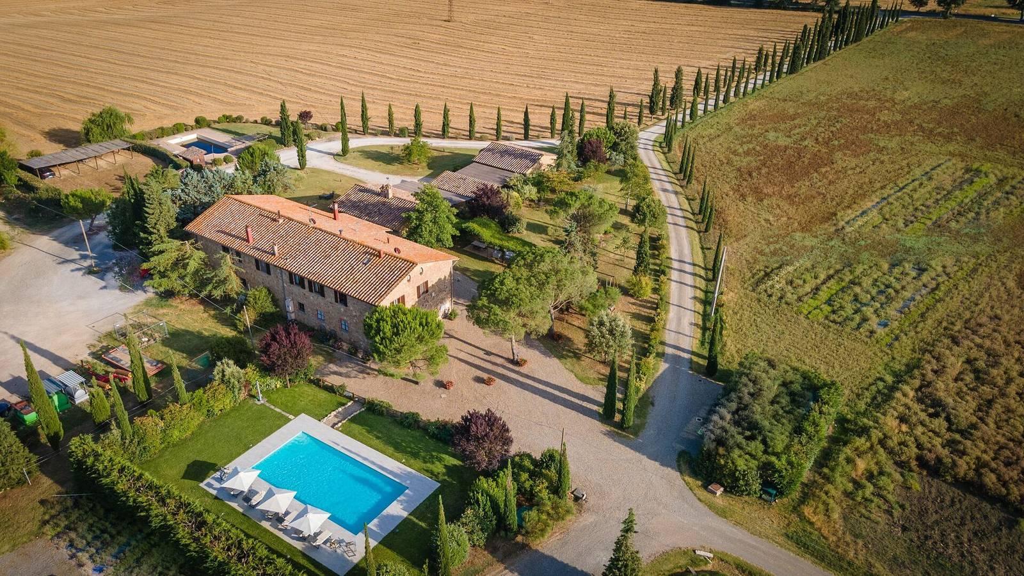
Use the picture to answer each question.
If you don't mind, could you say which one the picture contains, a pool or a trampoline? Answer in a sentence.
Of the two, only a pool appears.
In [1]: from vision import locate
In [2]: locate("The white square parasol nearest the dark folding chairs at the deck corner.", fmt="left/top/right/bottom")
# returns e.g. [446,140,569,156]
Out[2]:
[221,466,263,502]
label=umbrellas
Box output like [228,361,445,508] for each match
[255,486,298,517]
[288,505,334,538]
[221,466,263,502]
